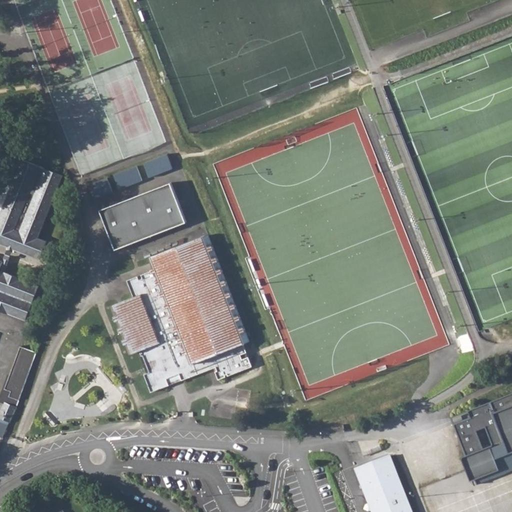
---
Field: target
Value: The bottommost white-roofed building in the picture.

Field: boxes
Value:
[354,456,412,512]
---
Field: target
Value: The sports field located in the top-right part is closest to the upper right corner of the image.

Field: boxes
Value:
[351,0,490,52]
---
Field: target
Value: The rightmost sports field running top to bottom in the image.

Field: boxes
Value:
[384,38,512,332]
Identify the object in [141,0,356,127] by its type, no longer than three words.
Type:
sports field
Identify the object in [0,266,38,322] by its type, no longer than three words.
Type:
house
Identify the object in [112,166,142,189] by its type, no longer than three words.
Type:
shed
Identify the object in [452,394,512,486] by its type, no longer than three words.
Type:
building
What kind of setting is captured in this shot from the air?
sports ground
